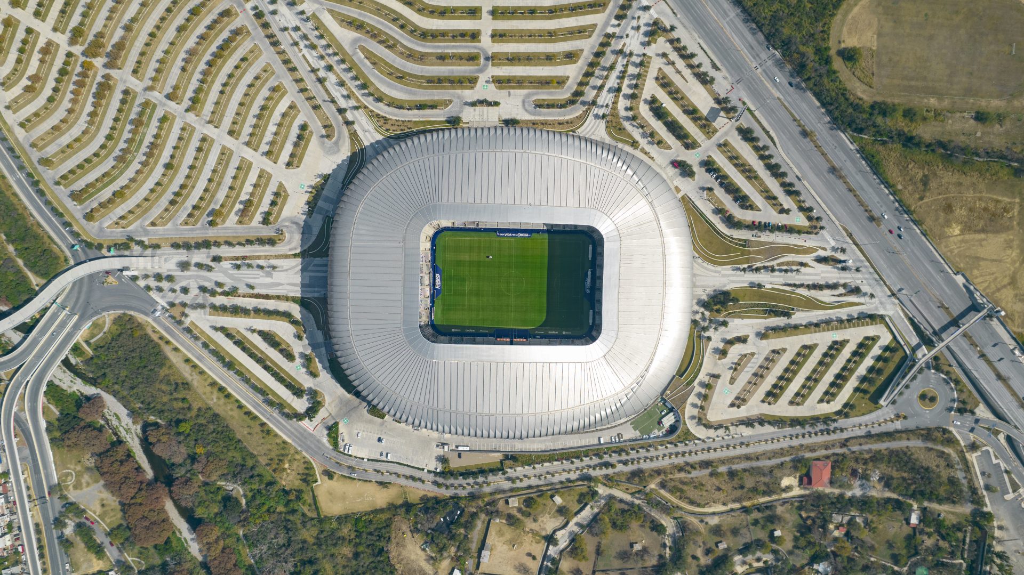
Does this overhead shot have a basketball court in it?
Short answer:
No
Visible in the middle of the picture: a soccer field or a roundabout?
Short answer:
soccer field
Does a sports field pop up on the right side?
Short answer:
Yes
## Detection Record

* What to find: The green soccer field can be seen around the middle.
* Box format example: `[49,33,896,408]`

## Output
[430,227,596,338]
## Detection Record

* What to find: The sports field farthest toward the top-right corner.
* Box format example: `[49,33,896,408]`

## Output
[830,0,1024,108]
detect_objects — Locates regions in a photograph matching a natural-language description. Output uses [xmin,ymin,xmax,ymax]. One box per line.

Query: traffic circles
[903,373,956,424]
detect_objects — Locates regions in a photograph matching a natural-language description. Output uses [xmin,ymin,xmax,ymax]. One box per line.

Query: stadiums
[327,125,693,440]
